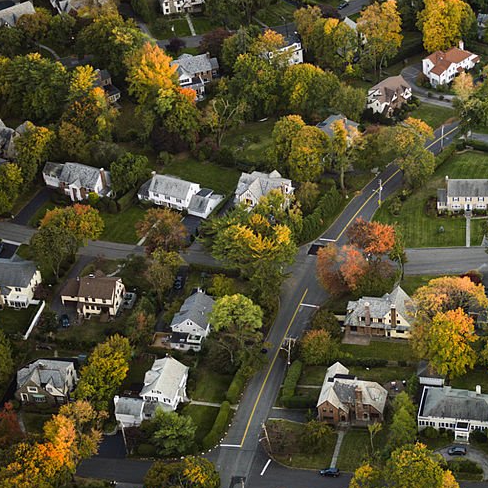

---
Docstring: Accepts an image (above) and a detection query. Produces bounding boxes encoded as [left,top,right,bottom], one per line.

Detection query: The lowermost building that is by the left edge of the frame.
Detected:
[13,358,82,411]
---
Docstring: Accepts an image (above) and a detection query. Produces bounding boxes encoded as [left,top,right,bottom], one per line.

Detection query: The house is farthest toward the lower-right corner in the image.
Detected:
[417,378,488,453]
